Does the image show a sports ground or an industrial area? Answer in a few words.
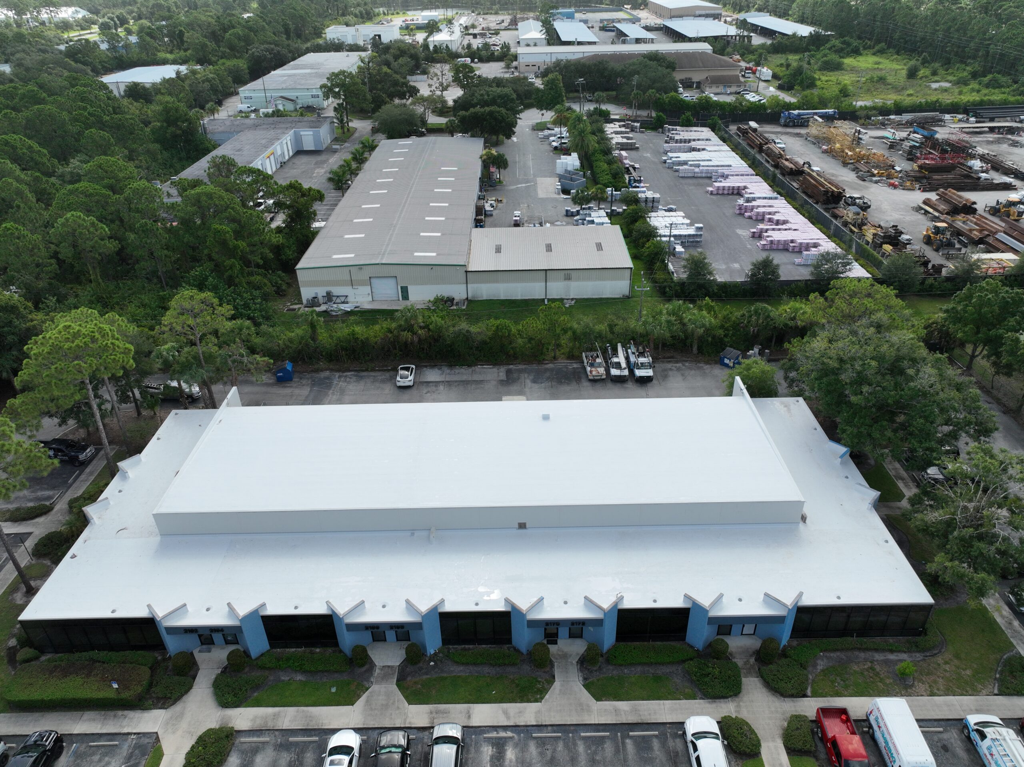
industrial area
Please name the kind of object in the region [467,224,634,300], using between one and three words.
building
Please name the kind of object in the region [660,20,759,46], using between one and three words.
shed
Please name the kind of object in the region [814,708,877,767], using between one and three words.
truck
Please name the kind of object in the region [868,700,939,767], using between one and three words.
van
